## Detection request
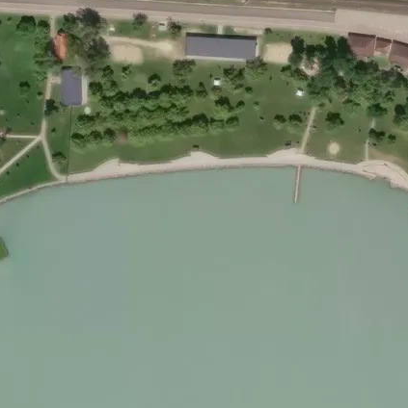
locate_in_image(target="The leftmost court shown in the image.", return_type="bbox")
[111,43,142,63]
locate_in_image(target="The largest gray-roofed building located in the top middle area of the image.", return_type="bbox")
[185,35,258,59]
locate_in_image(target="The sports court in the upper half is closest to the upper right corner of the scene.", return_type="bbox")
[264,42,293,63]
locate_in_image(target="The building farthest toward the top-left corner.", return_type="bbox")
[54,32,68,61]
